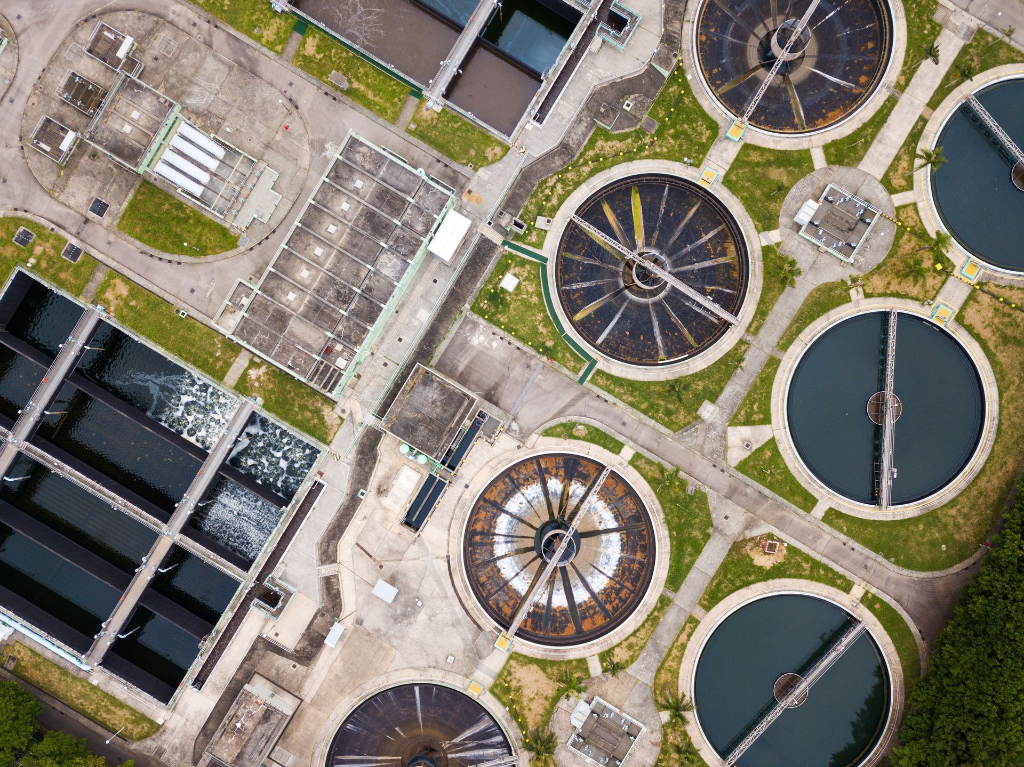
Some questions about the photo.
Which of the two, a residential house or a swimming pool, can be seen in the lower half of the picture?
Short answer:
residential house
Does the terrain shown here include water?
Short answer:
Yes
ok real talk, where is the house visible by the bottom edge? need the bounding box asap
[197,681,294,767]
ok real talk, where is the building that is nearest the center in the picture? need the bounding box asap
[379,362,477,463]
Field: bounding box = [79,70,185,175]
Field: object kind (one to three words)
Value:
house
